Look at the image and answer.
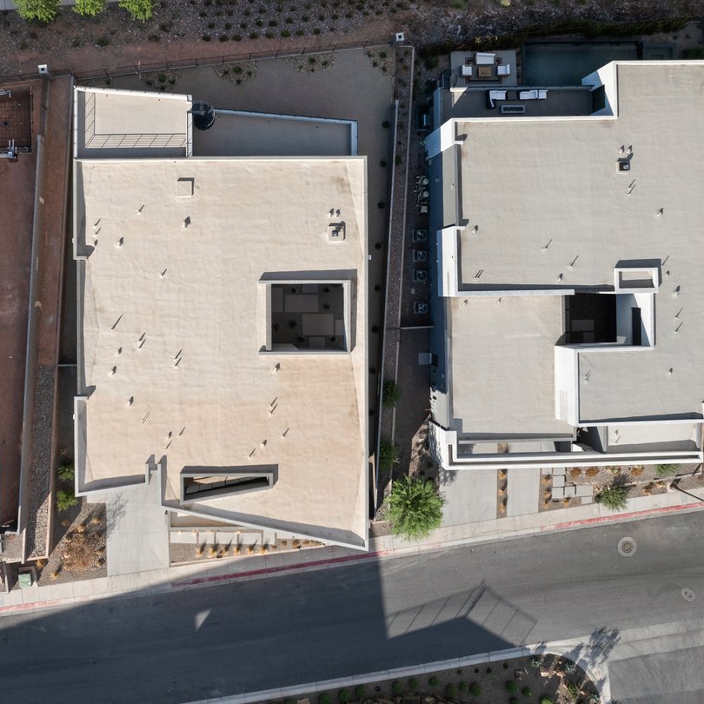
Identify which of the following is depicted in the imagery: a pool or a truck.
pool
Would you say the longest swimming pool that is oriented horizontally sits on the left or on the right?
right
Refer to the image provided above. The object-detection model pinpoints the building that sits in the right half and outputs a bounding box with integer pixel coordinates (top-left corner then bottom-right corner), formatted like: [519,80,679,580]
[418,60,704,470]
